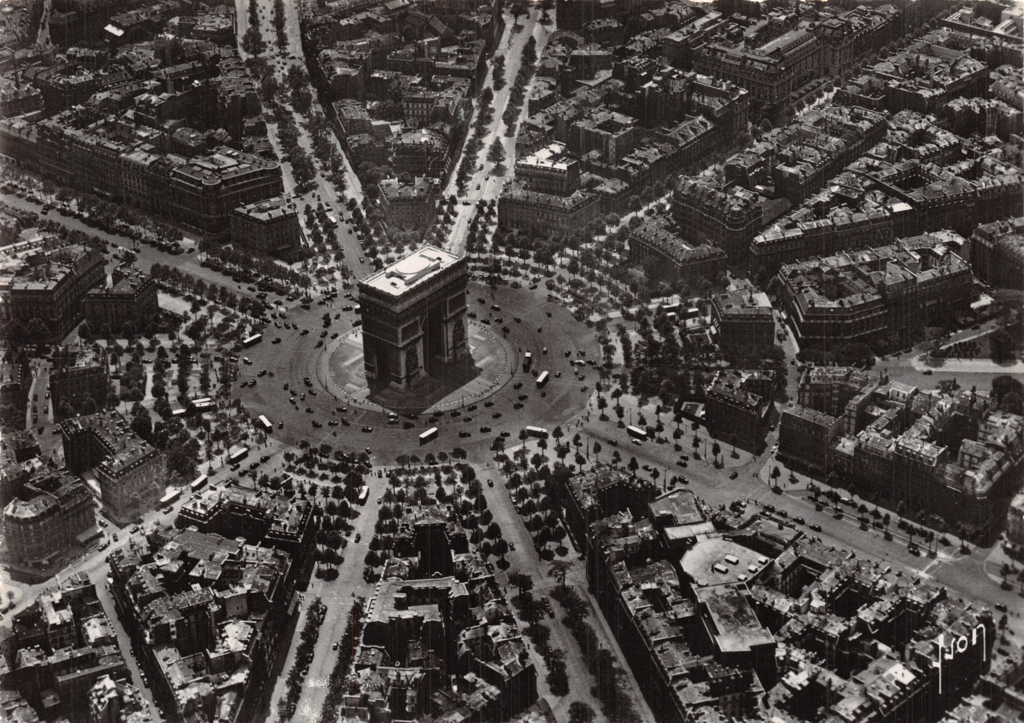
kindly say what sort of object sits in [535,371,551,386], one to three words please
vehicle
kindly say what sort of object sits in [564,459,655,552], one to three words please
house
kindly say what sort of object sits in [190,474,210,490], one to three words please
vehicle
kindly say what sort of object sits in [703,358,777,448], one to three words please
house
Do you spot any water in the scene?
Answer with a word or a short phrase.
No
